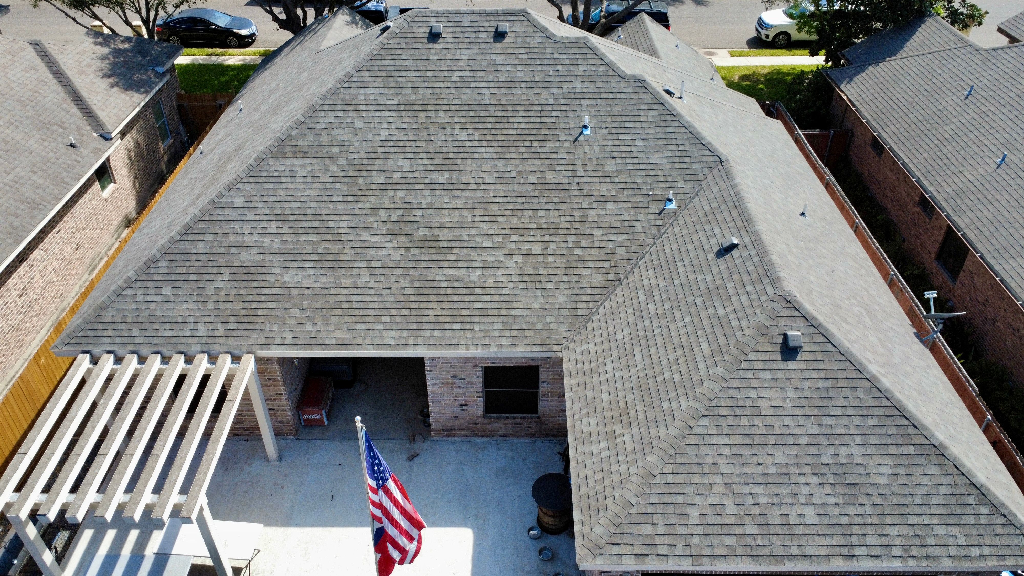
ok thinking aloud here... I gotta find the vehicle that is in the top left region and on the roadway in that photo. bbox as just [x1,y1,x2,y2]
[159,10,269,48]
